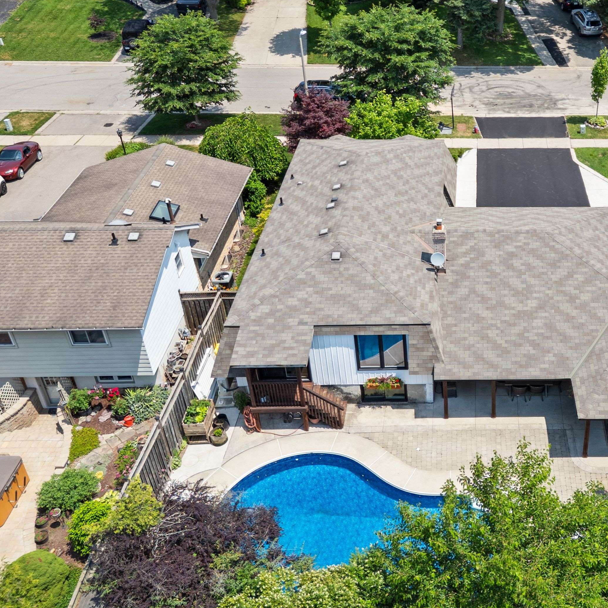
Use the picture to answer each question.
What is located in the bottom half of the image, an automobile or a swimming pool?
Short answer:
swimming pool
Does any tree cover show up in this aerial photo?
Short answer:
Yes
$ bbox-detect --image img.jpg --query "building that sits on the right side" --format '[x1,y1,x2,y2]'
[212,131,608,458]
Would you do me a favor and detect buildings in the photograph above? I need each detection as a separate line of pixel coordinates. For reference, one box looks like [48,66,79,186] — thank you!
[212,131,608,458]
[0,145,251,402]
